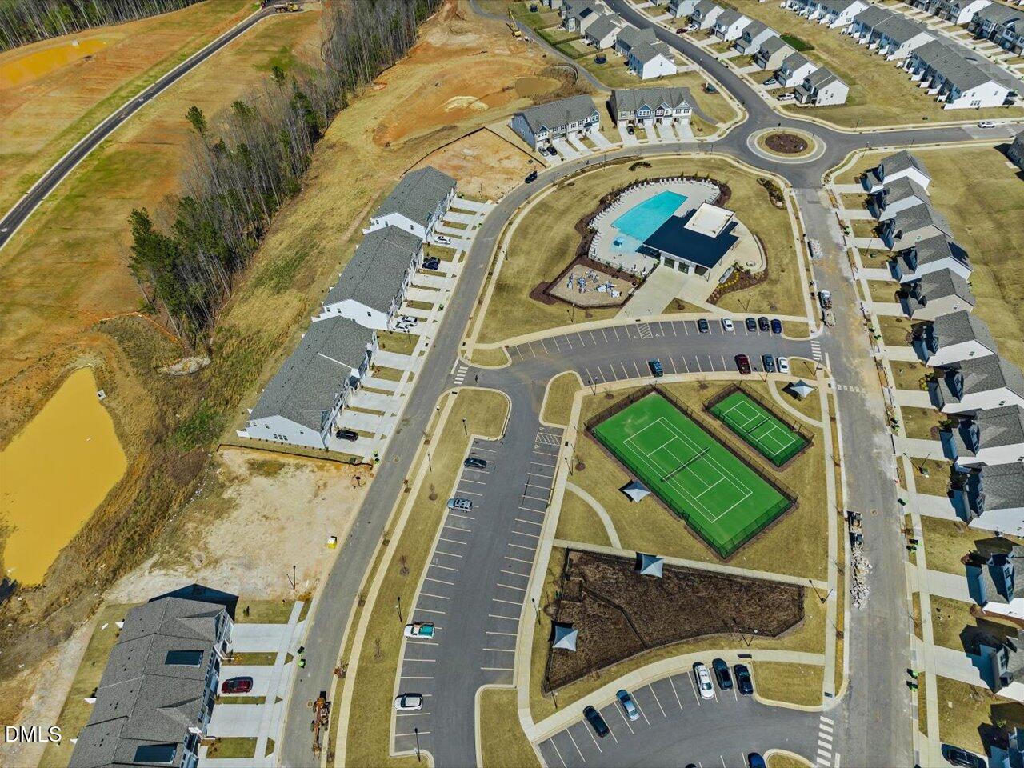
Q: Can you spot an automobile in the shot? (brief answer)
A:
Yes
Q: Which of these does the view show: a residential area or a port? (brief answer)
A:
residential area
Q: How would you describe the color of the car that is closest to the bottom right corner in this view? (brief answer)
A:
black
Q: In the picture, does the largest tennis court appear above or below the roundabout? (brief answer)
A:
below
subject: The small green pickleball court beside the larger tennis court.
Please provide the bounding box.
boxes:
[715,392,805,458]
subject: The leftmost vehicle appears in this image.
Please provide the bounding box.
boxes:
[220,675,252,692]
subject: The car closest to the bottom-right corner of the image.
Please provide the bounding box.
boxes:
[948,741,985,768]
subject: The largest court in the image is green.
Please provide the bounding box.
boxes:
[595,393,790,549]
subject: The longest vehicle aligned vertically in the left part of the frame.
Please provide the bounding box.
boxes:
[307,686,330,758]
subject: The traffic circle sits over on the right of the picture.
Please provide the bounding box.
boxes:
[747,127,828,165]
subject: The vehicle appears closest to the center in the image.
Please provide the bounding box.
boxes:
[463,454,488,467]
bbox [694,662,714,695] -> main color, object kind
white car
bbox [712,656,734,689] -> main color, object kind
black car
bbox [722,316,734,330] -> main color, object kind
white vehicle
